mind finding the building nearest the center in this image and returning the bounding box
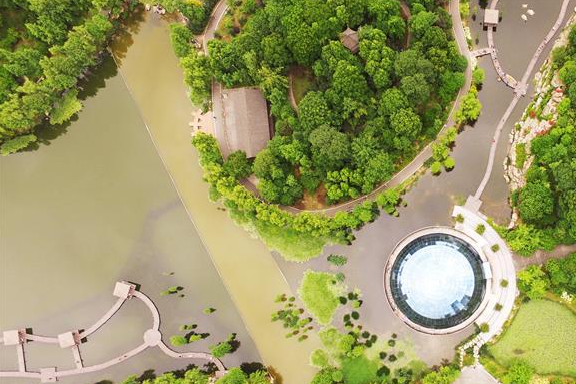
[225,85,272,165]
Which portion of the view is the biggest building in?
bottom right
